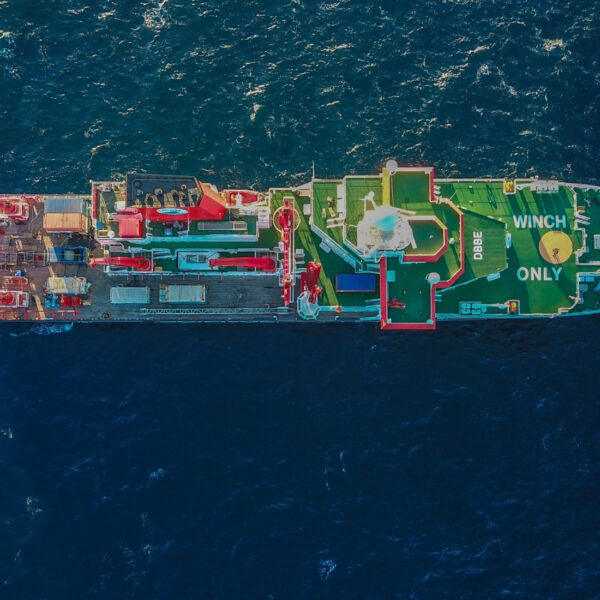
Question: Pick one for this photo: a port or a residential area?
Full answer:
This looks like a port.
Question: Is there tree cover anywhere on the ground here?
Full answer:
No, the picture contains no tree cover.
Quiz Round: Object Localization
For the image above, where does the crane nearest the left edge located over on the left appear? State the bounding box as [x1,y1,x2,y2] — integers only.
[86,255,156,271]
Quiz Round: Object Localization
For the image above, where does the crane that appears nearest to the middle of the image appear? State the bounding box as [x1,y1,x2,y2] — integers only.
[297,260,324,319]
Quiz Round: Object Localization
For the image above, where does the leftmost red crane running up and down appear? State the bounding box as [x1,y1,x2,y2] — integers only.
[272,197,301,305]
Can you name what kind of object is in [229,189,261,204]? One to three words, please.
boat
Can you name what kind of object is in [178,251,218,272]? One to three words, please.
boat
